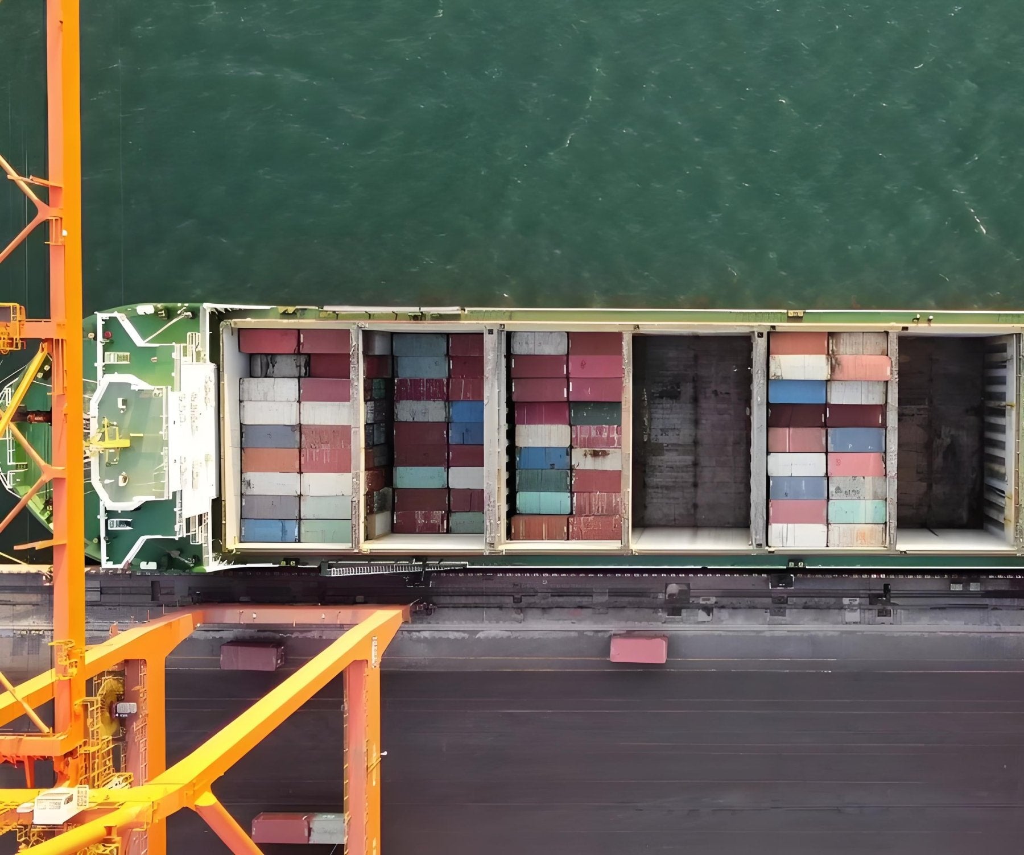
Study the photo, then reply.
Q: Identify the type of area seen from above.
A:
port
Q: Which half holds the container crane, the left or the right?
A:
left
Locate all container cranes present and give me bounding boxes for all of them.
[0,0,444,855]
